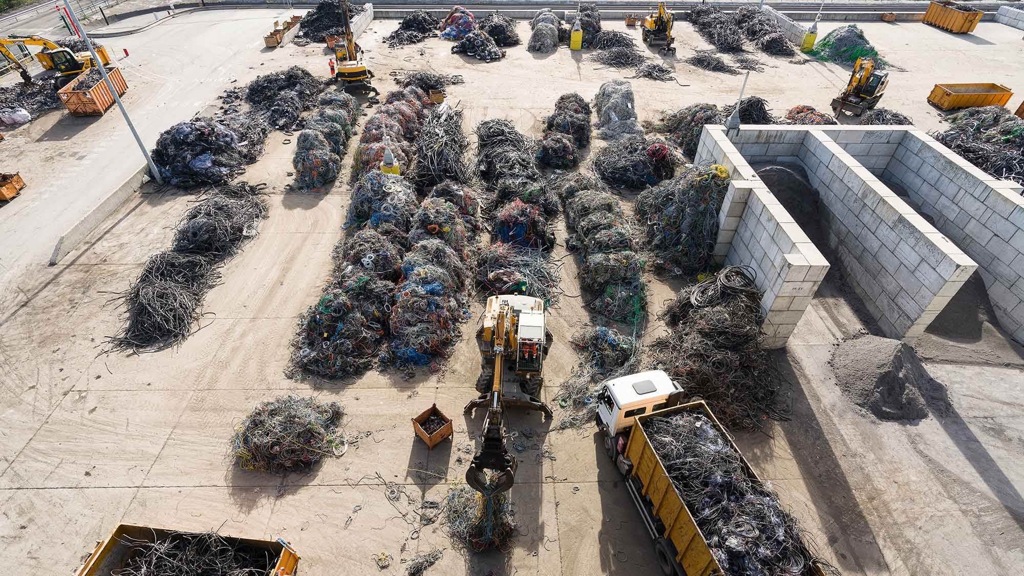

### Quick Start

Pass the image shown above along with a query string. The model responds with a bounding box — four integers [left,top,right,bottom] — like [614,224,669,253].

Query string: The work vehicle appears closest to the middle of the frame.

[458,293,558,486]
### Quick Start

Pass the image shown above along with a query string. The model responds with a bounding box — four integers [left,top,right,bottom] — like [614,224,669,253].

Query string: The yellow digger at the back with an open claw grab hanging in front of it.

[637,0,681,46]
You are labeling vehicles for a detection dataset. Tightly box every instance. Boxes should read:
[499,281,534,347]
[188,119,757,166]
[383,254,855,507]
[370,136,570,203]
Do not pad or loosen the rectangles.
[333,0,379,92]
[637,0,681,46]
[0,27,110,83]
[590,362,840,576]
[838,46,904,116]
[458,293,558,486]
